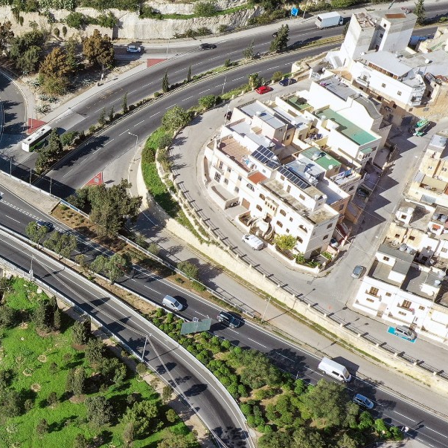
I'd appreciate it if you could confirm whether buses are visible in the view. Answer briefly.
Yes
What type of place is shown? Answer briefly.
residential area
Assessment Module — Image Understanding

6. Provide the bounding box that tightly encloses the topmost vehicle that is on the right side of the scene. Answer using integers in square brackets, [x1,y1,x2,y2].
[320,8,345,25]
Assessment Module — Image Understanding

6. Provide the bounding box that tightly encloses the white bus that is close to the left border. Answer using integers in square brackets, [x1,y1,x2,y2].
[19,119,55,152]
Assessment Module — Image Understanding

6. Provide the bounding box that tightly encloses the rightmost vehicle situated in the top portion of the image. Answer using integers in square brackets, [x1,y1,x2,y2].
[410,115,429,138]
